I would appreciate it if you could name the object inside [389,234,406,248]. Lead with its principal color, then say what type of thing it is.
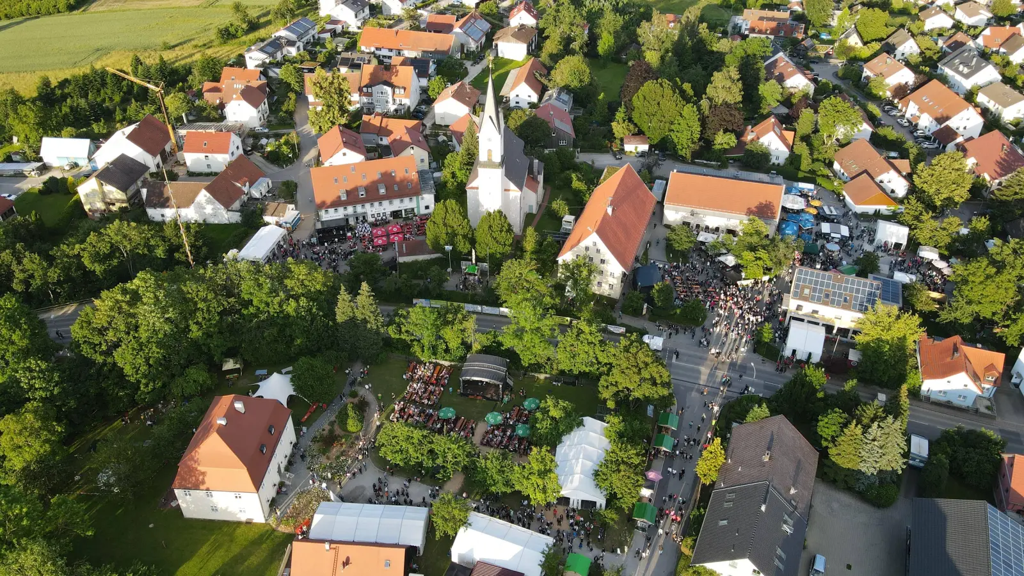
red umbrella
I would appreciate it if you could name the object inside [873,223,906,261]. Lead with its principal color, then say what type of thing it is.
white tent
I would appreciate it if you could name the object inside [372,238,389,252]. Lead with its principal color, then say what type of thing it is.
red umbrella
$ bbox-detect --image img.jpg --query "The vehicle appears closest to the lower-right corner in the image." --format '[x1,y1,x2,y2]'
[908,430,935,471]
